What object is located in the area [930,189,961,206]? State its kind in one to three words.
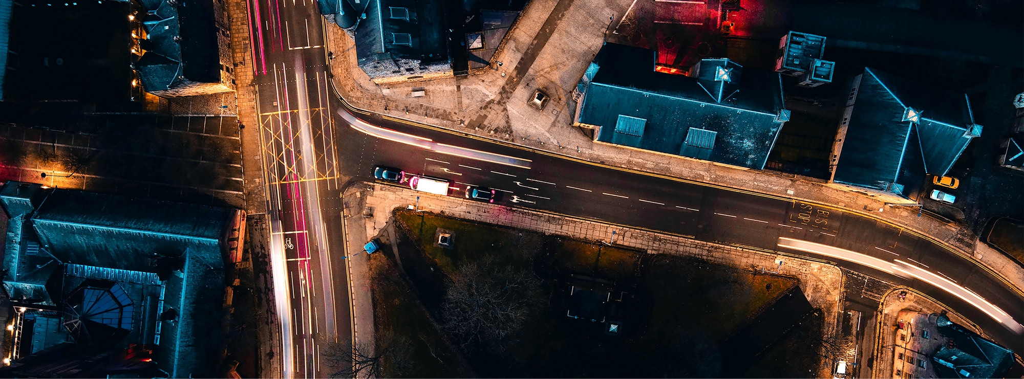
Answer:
car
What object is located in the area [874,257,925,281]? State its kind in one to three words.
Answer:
vehicle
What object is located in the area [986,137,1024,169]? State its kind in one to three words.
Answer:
house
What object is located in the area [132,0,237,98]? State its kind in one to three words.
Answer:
building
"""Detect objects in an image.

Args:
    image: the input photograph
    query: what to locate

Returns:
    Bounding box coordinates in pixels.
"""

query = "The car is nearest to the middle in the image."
[465,185,497,202]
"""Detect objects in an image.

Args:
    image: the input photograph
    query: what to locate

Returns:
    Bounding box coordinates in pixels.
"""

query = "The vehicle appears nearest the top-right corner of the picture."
[935,174,966,190]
